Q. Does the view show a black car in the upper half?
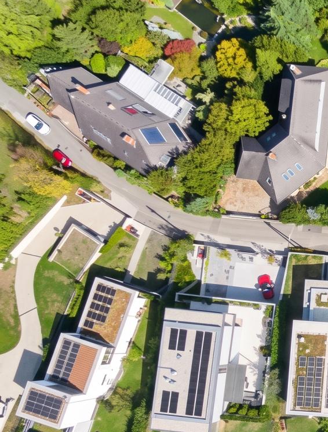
No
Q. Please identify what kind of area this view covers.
residential area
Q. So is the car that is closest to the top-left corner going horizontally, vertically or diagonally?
diagonally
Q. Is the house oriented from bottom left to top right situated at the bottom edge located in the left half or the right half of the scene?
left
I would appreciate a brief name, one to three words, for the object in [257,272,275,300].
car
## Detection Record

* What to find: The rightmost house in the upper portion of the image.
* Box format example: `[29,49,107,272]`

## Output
[236,63,328,204]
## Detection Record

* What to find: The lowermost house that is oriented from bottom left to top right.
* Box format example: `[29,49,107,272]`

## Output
[15,277,156,432]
